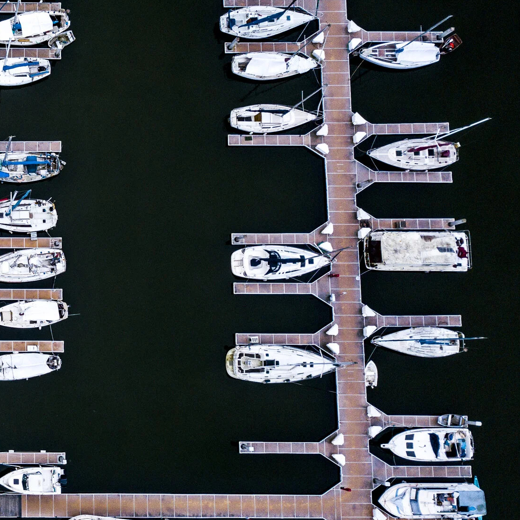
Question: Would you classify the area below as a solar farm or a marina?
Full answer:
What you see here is a marina.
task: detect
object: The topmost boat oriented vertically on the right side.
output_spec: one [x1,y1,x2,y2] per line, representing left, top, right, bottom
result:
[367,352,380,389]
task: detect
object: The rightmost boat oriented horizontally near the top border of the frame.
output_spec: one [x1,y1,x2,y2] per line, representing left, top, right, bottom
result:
[351,14,457,68]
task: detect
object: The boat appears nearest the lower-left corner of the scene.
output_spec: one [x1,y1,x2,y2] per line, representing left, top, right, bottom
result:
[0,467,79,495]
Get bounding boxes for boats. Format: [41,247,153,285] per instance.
[0,292,77,341]
[49,30,75,47]
[373,477,485,520]
[228,244,357,281]
[378,427,474,461]
[216,0,320,43]
[439,414,468,428]
[0,0,71,45]
[367,352,380,389]
[361,117,494,170]
[0,37,52,85]
[0,343,62,382]
[441,33,461,53]
[0,189,59,237]
[0,467,79,495]
[0,239,67,282]
[368,327,484,355]
[227,23,334,78]
[0,136,66,183]
[223,344,361,384]
[225,83,329,135]
[362,229,480,272]
[351,14,457,68]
